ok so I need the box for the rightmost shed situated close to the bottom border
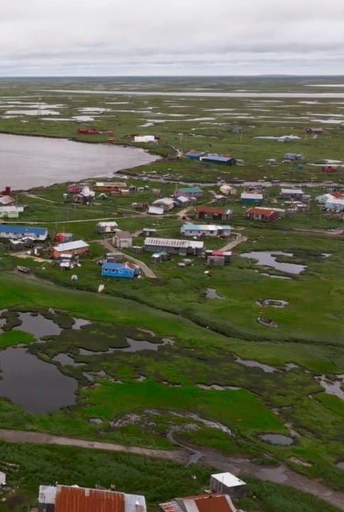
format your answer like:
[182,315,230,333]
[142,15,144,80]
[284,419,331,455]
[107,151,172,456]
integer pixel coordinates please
[218,476,249,498]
